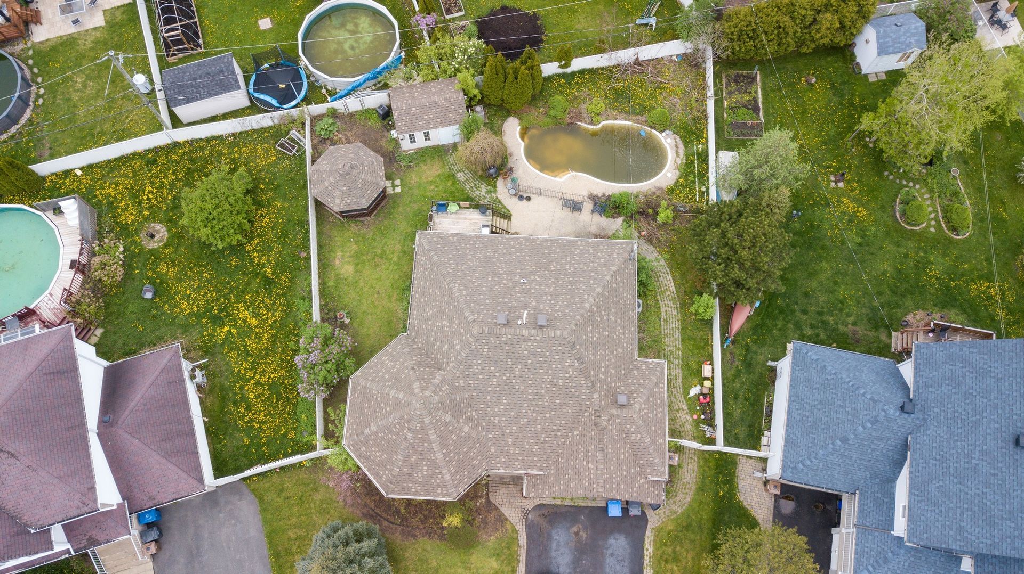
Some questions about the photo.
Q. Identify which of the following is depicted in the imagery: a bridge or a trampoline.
trampoline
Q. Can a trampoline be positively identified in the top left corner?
Yes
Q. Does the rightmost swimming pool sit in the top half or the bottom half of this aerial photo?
top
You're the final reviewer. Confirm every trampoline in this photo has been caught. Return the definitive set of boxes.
[248,45,310,111]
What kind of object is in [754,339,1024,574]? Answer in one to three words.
house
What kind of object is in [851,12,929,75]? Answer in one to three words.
shed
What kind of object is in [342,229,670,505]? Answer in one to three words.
house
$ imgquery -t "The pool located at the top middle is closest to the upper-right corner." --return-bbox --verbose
[515,119,673,187]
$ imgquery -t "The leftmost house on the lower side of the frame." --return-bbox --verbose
[0,320,215,574]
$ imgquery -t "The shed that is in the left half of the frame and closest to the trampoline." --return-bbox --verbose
[159,52,249,123]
